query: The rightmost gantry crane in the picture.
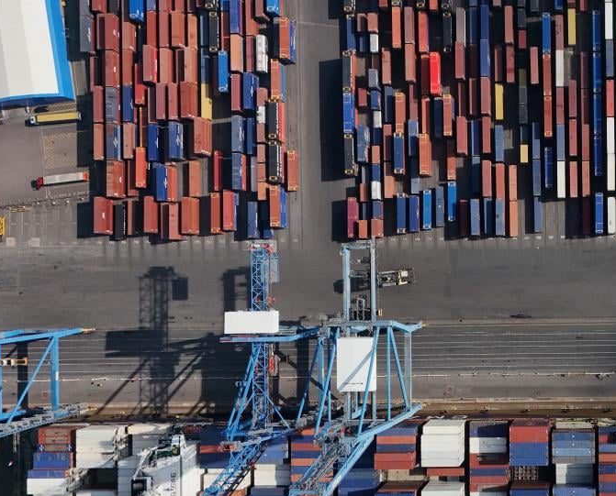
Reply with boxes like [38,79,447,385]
[294,237,429,496]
